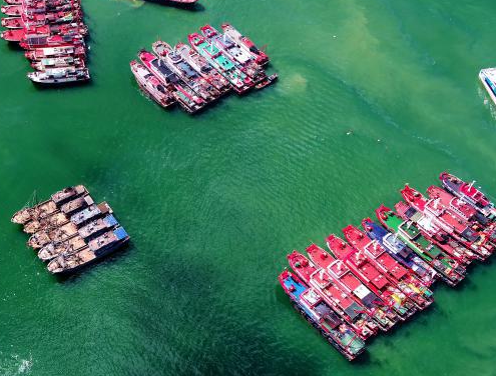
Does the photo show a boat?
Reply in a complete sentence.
Yes, this view includes a boat.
